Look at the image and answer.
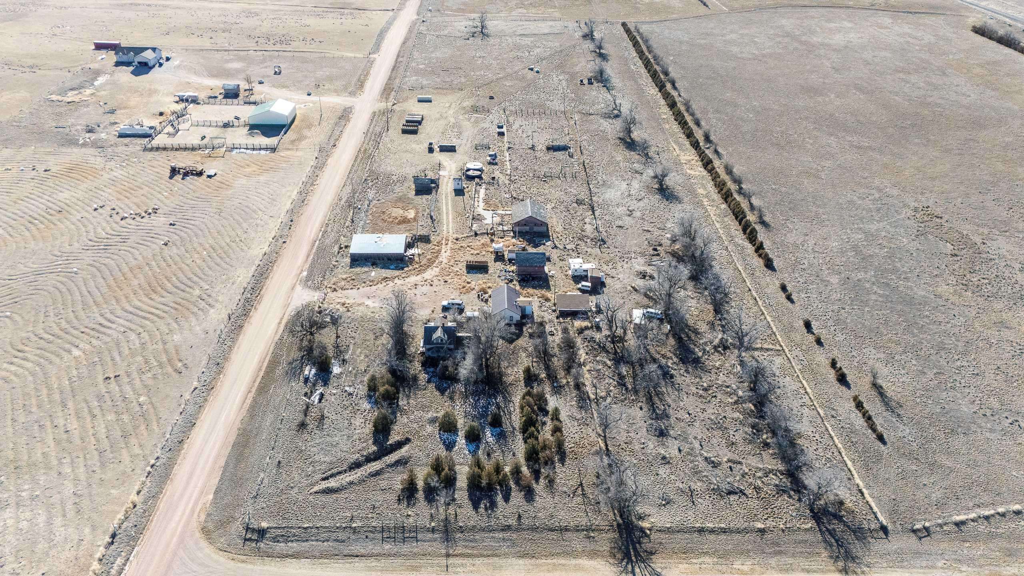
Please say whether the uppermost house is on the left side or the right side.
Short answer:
left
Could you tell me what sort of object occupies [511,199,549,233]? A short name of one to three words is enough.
barn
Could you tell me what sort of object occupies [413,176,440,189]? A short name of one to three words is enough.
shed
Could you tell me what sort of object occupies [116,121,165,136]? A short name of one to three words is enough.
building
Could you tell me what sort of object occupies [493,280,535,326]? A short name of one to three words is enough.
house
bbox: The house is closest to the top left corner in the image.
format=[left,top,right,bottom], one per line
[114,44,163,66]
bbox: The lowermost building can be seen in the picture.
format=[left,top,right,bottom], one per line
[421,315,474,354]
